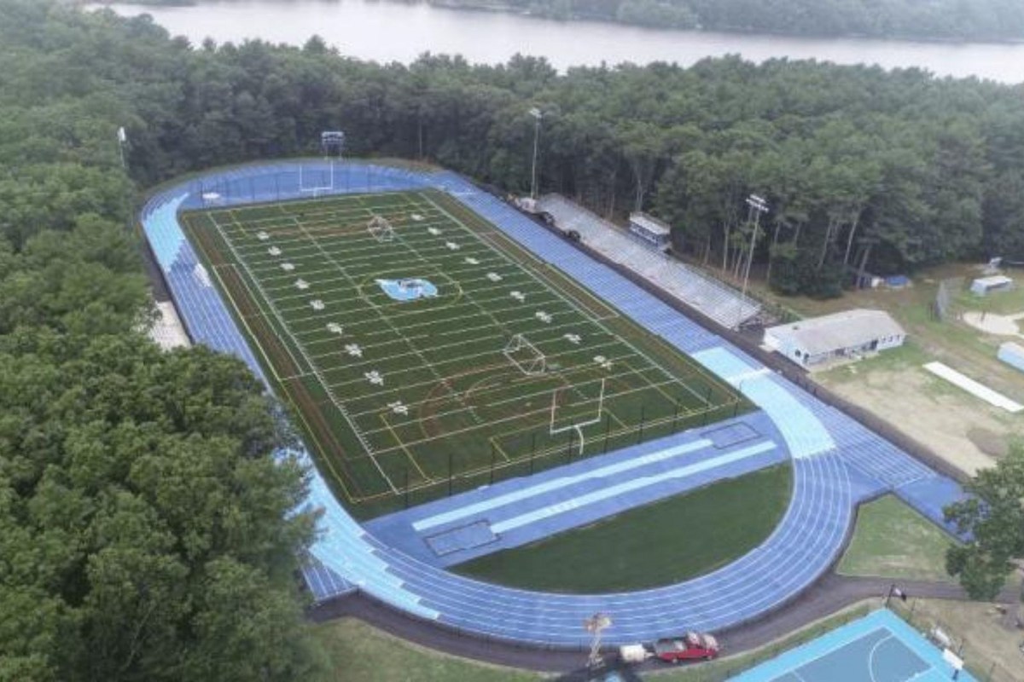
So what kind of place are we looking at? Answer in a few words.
sports ground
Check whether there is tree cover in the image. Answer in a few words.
Yes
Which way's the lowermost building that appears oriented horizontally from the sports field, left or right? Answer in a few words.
on the right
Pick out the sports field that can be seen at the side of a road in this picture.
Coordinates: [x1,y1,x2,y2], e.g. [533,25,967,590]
[173,184,763,524]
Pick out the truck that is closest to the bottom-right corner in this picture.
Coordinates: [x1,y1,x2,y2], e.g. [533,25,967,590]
[655,635,722,666]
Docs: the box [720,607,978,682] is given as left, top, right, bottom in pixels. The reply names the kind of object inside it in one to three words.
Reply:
basketball court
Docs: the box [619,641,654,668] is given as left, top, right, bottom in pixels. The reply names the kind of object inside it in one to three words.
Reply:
trailer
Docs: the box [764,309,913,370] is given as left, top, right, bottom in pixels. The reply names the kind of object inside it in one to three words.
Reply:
building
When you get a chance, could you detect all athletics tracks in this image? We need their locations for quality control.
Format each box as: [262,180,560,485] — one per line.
[138,160,998,645]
